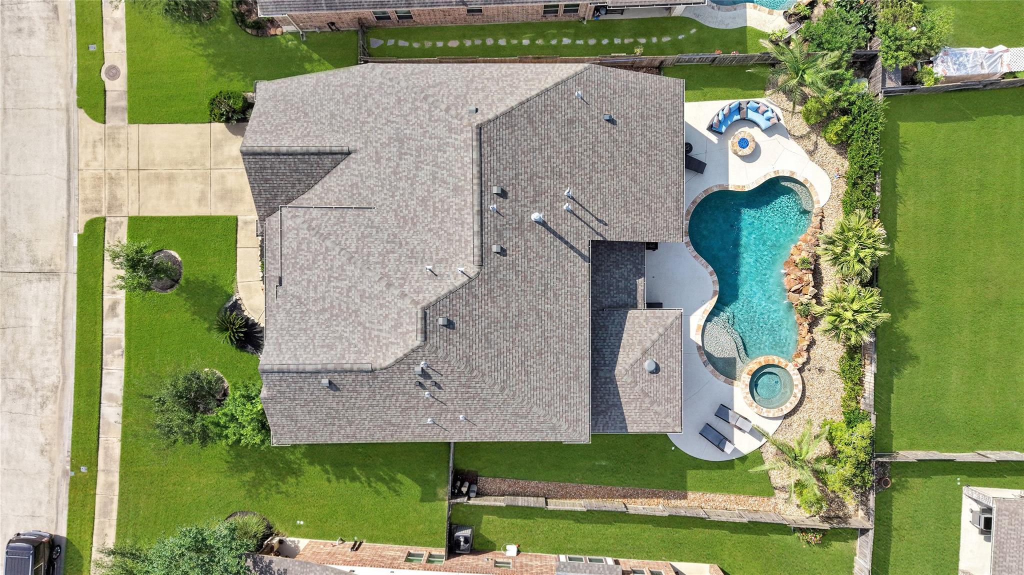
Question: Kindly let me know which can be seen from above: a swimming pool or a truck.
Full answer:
It is a swimming pool that can be seen here.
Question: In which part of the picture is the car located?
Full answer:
You can find the car in the bottom left area of the picture.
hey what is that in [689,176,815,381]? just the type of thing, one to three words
swimming pool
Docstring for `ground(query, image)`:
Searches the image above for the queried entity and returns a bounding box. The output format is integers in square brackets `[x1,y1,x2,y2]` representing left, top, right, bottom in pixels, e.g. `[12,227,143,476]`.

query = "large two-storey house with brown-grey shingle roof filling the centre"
[240,60,687,445]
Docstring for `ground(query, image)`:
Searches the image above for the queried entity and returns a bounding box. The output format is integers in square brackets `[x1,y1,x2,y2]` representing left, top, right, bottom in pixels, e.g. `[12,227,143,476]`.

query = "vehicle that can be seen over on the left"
[7,526,62,575]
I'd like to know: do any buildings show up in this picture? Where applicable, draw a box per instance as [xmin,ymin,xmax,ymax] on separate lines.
[967,487,1024,575]
[244,536,729,575]
[254,0,709,41]
[240,60,687,445]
